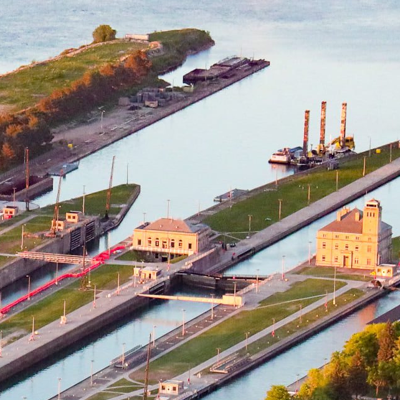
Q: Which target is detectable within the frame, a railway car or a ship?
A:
ship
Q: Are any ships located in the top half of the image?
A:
Yes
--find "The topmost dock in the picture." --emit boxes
[0,28,270,200]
